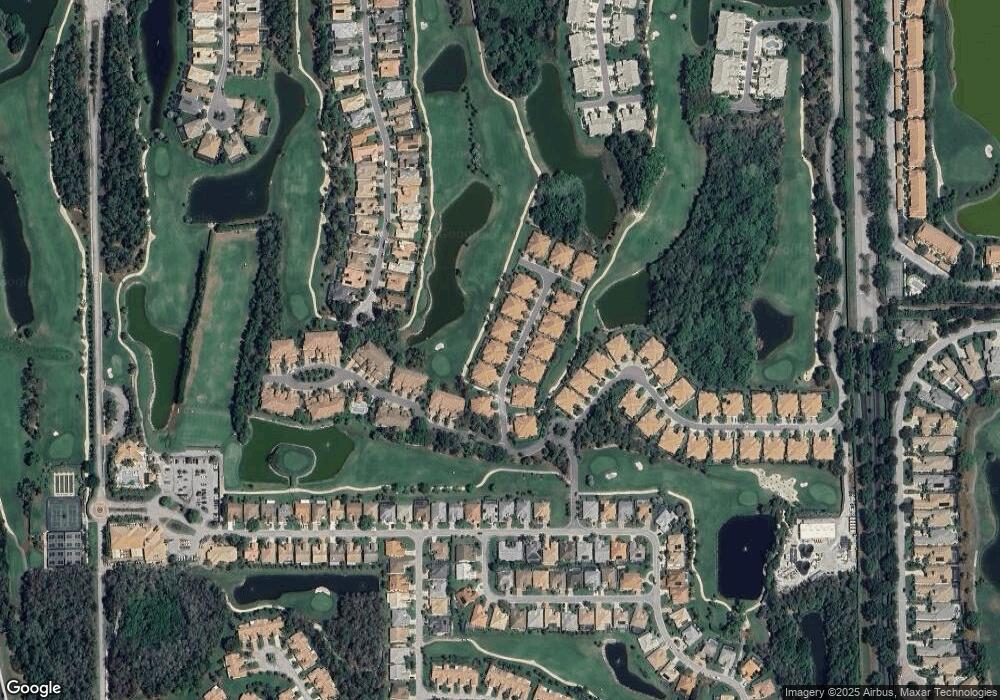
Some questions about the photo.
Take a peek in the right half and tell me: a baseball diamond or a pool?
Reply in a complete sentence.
What appears in the right half is a pool.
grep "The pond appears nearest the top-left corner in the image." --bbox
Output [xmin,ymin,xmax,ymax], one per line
[141,0,177,130]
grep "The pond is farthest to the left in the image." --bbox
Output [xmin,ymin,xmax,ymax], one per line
[0,173,33,328]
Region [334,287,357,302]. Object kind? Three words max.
house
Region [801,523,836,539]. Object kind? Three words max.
shed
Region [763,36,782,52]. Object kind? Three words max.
swimming pool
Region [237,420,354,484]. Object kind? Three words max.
pond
